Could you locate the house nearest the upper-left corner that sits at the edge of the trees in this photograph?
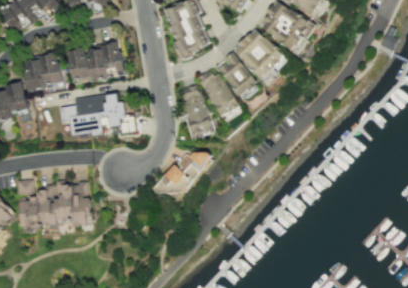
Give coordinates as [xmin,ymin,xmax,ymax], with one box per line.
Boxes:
[0,0,62,30]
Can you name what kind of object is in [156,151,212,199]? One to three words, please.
house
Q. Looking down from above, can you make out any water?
Yes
